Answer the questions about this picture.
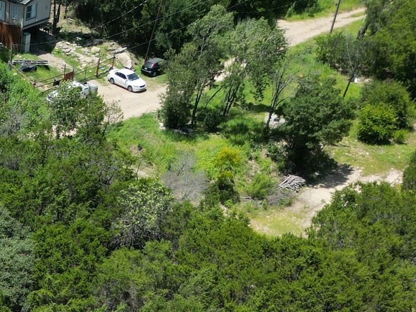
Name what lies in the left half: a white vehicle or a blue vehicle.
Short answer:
white vehicle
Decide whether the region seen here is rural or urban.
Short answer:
rural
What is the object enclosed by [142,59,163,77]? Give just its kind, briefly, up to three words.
car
